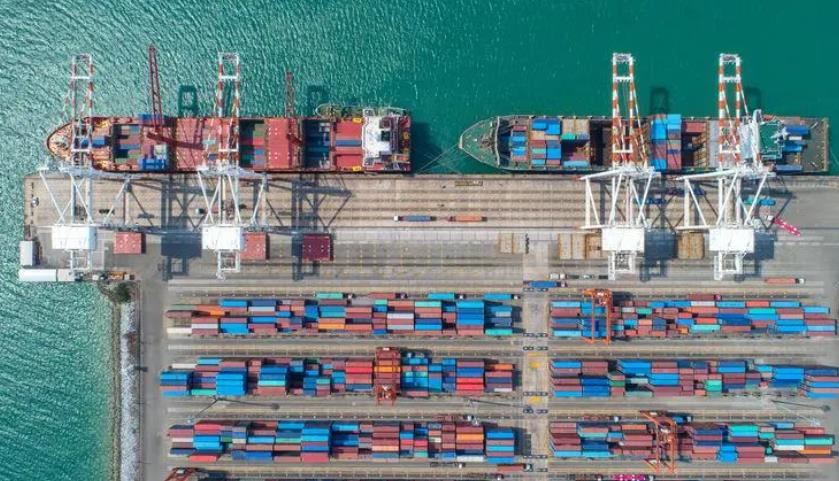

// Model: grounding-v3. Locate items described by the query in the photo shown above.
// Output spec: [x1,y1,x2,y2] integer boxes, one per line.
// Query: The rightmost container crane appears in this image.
[664,52,764,282]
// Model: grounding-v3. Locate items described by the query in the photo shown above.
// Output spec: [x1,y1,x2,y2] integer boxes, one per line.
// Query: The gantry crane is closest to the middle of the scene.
[374,341,405,410]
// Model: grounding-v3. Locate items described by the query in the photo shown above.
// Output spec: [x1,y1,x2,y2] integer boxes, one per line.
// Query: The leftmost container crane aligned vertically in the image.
[48,52,151,282]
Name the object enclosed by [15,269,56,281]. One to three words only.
shed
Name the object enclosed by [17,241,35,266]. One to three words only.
shed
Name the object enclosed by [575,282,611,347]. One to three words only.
container crane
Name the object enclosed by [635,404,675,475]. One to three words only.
container crane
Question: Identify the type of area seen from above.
port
